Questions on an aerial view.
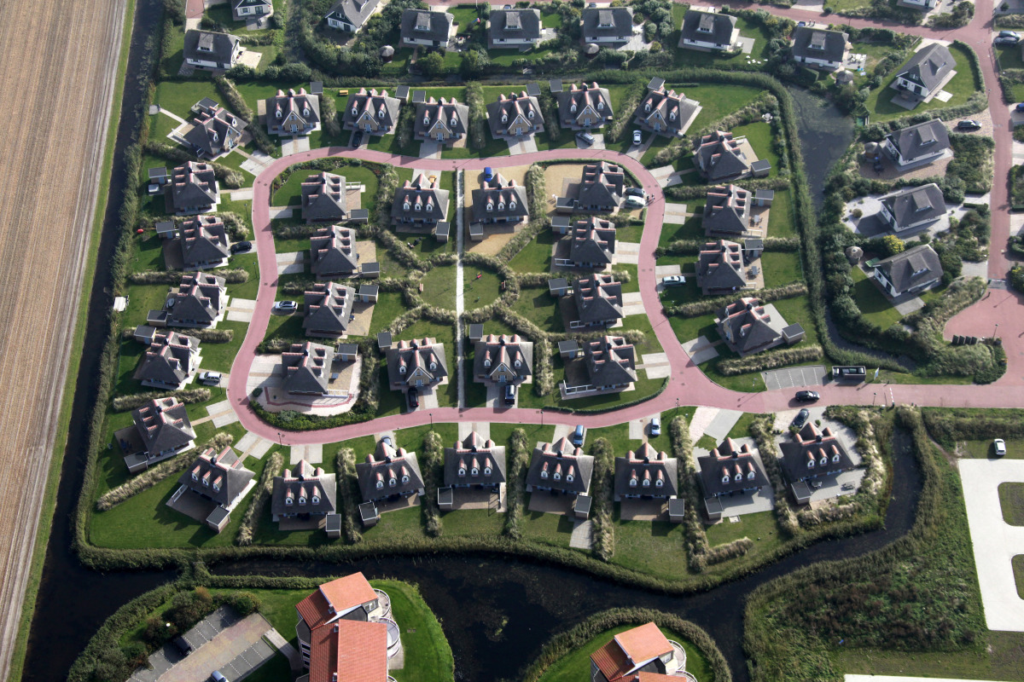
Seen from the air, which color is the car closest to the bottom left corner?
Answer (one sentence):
The color of the car closest to the bottom left corner is black.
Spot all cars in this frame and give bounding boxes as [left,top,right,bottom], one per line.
[170,634,195,658]
[407,389,418,408]
[483,166,493,181]
[380,431,395,449]
[198,370,222,383]
[503,0,512,9]
[632,131,641,144]
[209,671,227,682]
[575,129,596,143]
[792,409,807,429]
[425,174,441,183]
[573,425,584,446]
[651,418,662,436]
[1014,102,1024,111]
[352,129,361,147]
[999,29,1020,39]
[230,241,252,253]
[275,299,298,310]
[995,35,1016,45]
[797,18,806,29]
[993,438,1008,458]
[504,386,515,405]
[959,119,980,129]
[795,390,819,402]
[626,187,644,196]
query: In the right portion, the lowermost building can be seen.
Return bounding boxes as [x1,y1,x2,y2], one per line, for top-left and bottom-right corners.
[589,622,697,682]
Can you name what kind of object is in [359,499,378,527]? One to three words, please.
shed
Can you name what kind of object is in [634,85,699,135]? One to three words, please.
house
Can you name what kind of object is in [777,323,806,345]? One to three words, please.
shed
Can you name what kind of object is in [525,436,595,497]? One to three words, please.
house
